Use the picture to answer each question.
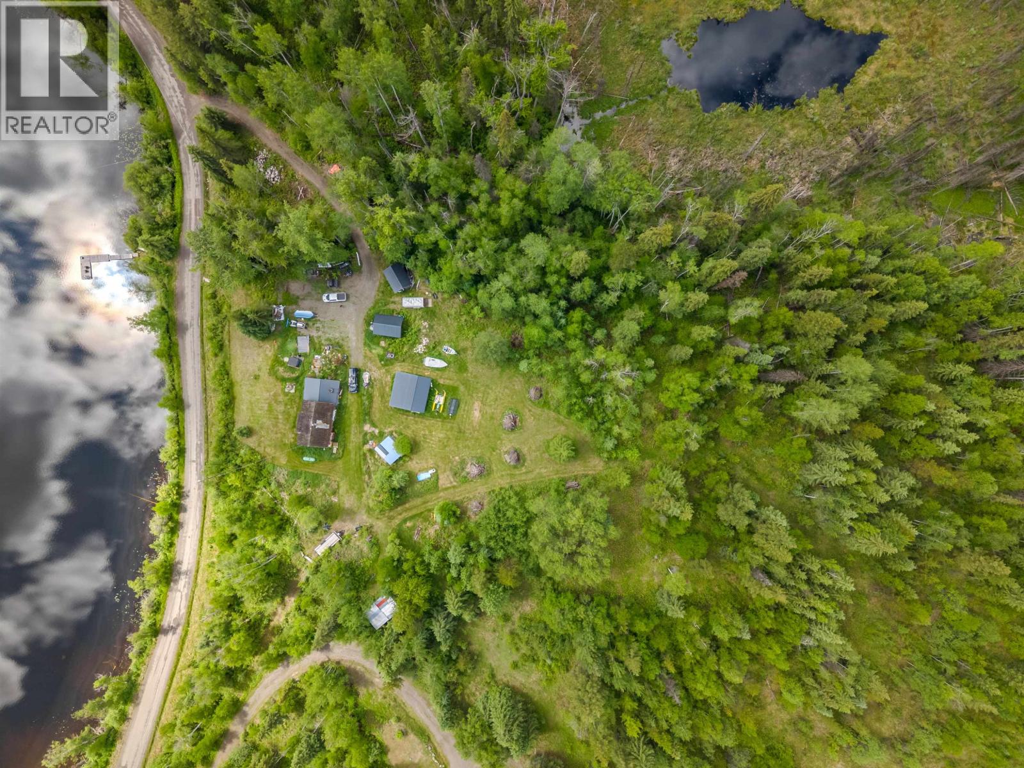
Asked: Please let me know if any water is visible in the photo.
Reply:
Yes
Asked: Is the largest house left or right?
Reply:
left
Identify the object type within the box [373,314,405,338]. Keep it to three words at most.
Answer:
shed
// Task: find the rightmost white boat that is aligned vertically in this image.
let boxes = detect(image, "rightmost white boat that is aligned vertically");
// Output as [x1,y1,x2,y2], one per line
[433,390,445,412]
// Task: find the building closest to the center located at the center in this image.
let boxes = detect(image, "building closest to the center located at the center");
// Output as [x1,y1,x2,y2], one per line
[389,371,432,413]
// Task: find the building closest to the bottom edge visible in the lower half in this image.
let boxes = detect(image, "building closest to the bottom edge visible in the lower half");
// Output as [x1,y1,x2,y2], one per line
[366,595,397,628]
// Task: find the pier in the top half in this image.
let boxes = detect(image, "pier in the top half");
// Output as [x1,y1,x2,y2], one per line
[79,253,136,280]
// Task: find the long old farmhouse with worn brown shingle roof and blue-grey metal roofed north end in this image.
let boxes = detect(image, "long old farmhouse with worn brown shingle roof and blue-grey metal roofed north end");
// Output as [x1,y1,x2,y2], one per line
[297,378,342,453]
